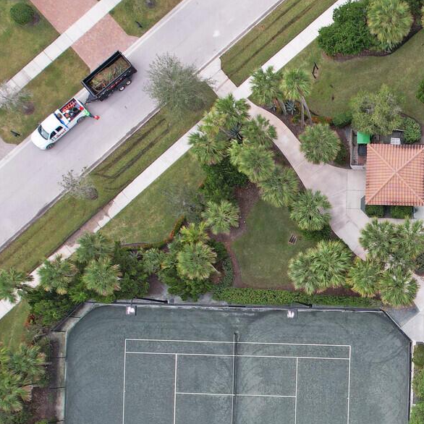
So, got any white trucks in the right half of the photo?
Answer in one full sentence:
No, no white truck can be made out in the right half of the photo.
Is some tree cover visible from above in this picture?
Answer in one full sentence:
Yes, the picture does contain tree cover.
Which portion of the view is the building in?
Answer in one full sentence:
The building is located in the right region of the scene.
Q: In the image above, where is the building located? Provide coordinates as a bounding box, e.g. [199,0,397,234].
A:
[363,142,424,208]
